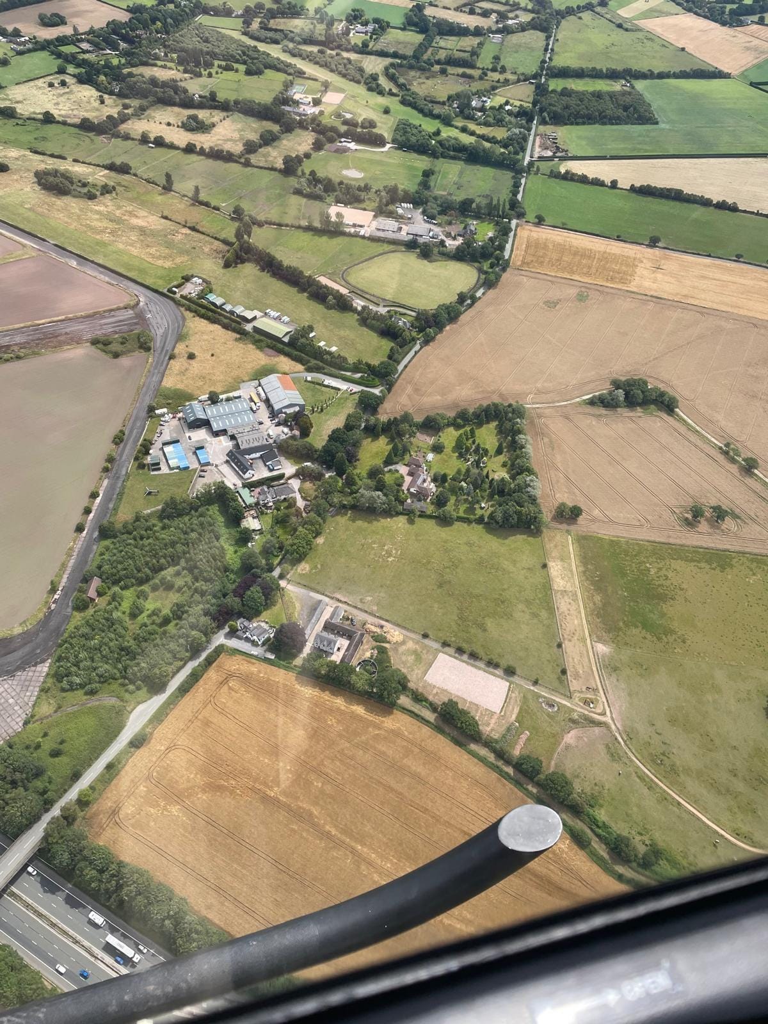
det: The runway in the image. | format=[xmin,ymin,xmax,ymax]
[0,308,142,349]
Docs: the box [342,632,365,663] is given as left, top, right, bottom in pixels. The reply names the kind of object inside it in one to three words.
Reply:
barn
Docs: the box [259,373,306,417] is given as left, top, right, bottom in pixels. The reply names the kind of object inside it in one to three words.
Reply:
building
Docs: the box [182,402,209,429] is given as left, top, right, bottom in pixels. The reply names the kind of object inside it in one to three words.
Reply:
shed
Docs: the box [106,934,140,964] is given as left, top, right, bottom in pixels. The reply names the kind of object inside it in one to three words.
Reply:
truck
